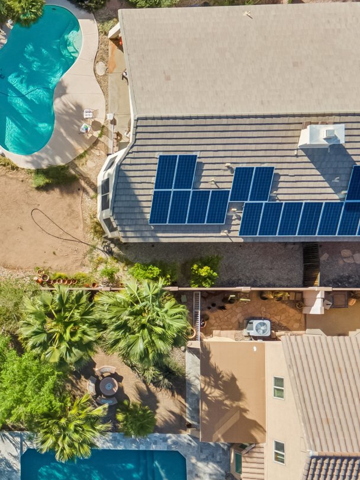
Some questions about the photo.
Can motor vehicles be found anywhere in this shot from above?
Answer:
No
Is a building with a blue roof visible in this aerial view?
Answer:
No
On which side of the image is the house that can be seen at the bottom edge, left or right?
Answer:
right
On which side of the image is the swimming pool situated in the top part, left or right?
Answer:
left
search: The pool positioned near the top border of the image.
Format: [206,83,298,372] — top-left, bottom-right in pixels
[0,2,85,156]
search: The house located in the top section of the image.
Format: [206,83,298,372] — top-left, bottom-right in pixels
[97,1,360,242]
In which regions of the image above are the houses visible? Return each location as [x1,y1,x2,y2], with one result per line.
[97,1,360,242]
[195,335,360,480]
